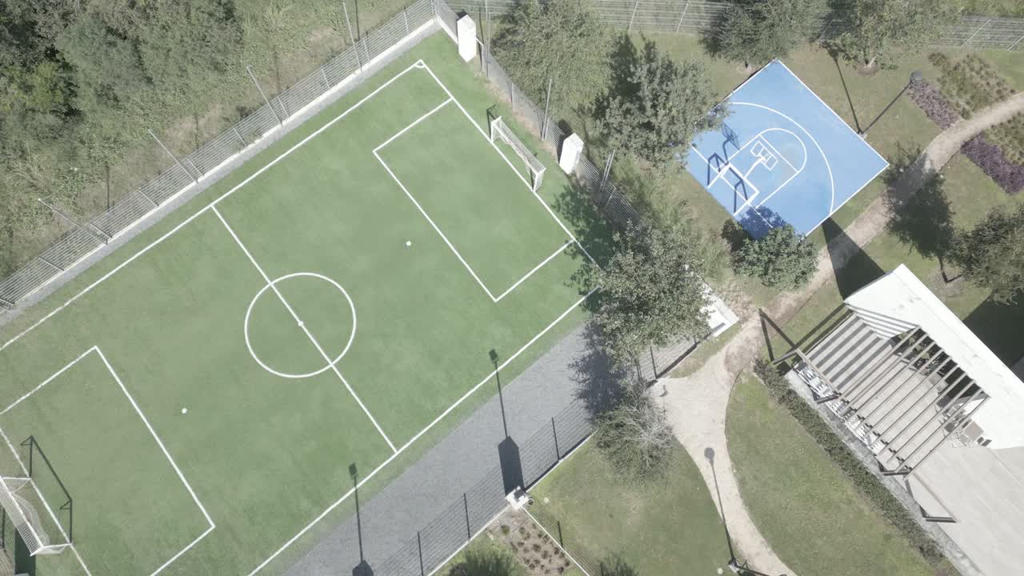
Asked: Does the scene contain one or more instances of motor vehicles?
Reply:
No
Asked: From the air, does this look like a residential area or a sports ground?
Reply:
sports ground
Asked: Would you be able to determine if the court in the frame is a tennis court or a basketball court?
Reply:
basketball court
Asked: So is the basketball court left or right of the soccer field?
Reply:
to the right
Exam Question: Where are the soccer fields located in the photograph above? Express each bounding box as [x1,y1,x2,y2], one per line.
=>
[0,30,666,576]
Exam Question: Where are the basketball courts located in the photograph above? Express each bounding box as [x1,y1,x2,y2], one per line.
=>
[668,61,889,252]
